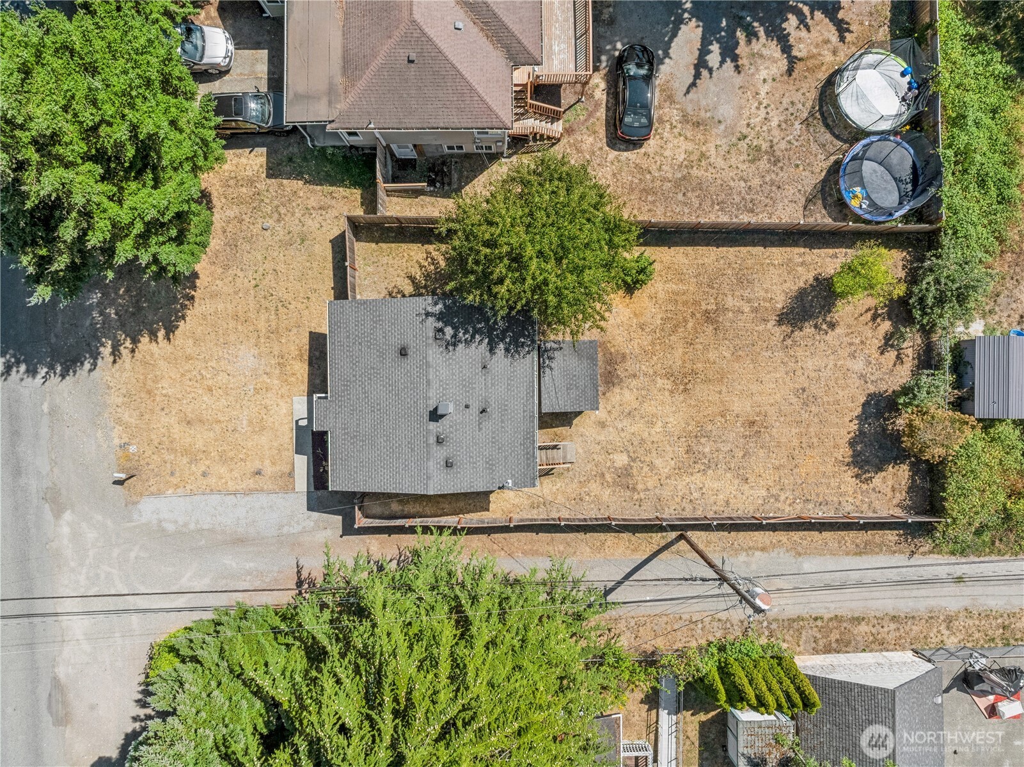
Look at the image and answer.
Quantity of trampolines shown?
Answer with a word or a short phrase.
2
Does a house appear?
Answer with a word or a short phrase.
Yes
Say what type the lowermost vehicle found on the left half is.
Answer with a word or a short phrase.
car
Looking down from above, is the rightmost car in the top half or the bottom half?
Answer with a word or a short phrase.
top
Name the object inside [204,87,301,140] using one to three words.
car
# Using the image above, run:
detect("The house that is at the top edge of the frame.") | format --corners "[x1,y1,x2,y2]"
[259,0,545,165]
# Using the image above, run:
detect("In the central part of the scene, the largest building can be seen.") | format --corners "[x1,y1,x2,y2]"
[313,298,541,495]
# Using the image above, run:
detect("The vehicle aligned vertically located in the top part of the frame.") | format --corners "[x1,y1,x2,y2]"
[612,51,660,151]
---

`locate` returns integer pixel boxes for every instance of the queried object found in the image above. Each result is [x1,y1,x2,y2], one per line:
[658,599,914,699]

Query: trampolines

[834,122,945,222]
[826,31,944,134]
